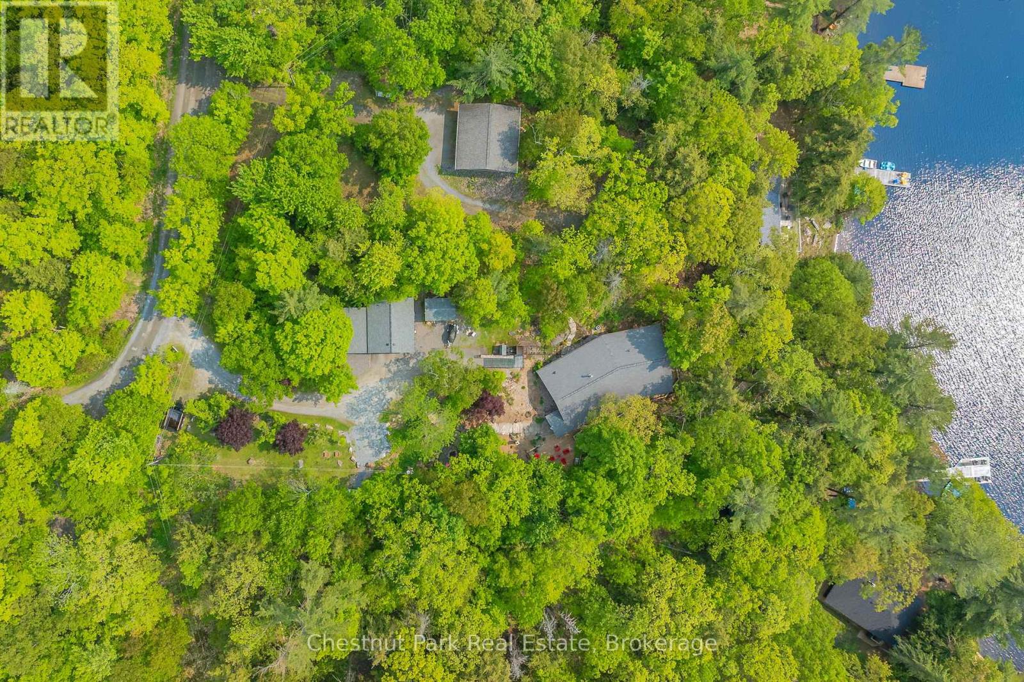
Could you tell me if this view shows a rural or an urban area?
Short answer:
rural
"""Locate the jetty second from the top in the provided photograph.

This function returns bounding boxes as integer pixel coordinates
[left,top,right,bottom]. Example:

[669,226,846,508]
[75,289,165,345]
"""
[848,165,912,188]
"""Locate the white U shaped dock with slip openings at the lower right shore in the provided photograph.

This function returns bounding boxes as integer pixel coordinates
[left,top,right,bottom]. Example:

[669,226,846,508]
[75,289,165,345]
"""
[915,456,993,485]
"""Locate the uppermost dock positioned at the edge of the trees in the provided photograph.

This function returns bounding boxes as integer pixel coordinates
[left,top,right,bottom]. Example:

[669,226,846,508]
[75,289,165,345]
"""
[881,64,928,89]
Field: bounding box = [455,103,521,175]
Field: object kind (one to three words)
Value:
house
